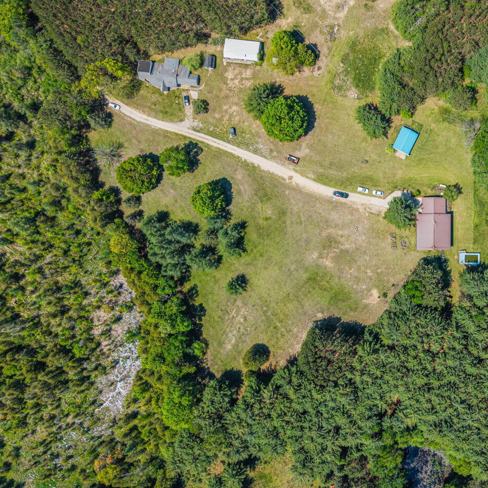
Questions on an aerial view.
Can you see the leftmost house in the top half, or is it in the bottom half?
top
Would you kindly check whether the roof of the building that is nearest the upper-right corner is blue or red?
blue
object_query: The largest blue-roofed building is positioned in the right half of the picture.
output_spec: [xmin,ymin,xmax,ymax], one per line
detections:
[392,127,419,155]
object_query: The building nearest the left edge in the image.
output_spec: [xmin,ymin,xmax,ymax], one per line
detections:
[138,55,204,97]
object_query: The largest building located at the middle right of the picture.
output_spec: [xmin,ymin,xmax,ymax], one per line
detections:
[416,196,452,250]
